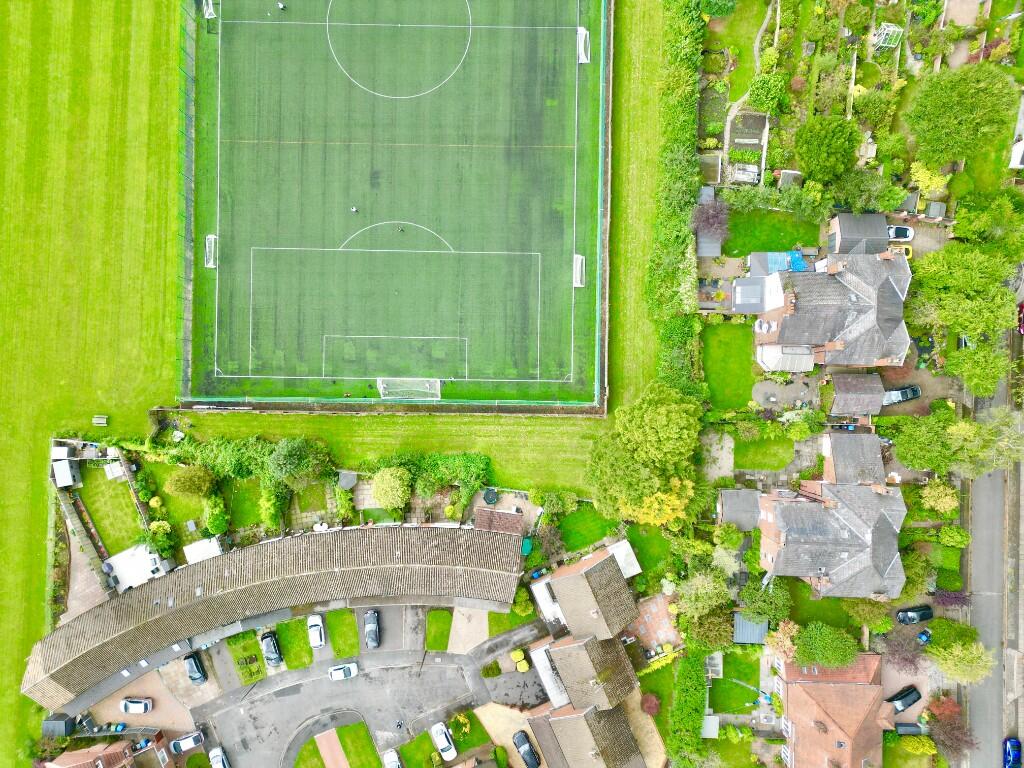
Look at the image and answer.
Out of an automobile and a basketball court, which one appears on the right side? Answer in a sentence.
You can see an automobile on the right side.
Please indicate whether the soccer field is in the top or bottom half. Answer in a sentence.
The soccer field is in the top half of the image.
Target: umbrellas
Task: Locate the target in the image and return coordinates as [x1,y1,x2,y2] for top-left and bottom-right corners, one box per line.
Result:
[482,488,498,504]
[104,561,117,573]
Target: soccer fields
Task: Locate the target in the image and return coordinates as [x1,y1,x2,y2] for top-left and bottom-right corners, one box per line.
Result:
[180,0,610,416]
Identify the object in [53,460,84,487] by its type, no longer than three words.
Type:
shed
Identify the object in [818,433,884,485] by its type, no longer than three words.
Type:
building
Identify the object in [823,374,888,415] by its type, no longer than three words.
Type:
building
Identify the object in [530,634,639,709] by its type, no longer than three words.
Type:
house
